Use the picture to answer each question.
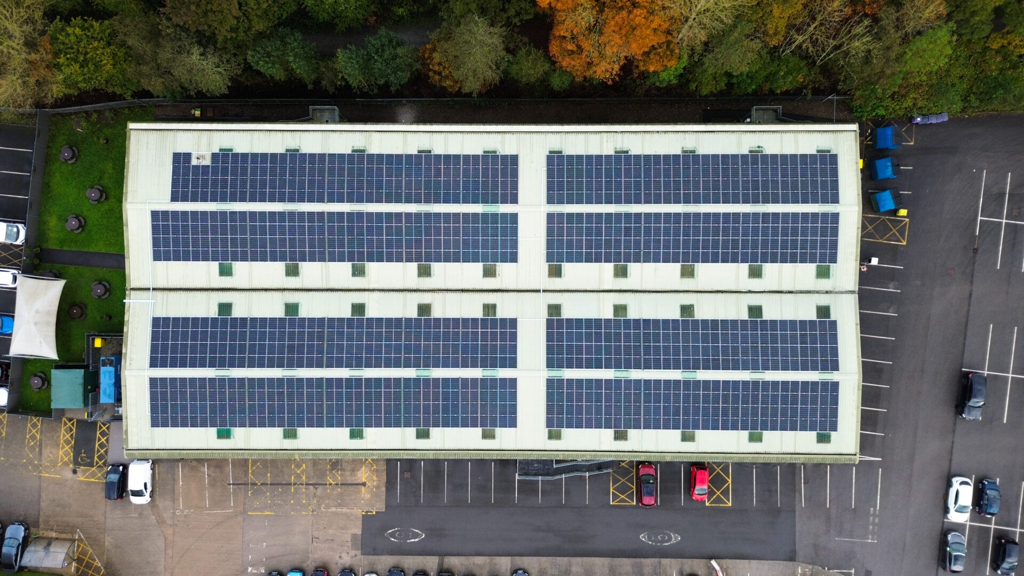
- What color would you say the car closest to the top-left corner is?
white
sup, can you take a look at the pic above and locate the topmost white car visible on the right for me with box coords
[944,475,972,522]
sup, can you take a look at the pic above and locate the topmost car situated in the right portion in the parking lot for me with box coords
[958,372,988,420]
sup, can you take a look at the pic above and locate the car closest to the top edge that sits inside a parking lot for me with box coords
[0,222,25,244]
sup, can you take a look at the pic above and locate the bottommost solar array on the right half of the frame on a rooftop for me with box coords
[546,378,839,431]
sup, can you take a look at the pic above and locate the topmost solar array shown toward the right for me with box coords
[546,153,839,205]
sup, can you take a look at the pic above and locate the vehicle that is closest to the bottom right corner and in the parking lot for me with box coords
[991,534,1021,576]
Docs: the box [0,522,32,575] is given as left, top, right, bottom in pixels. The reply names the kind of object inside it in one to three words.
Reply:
car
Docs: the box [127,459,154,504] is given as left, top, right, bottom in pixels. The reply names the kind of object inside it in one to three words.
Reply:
vehicle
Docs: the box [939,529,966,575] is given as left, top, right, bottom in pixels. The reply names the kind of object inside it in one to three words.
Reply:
car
